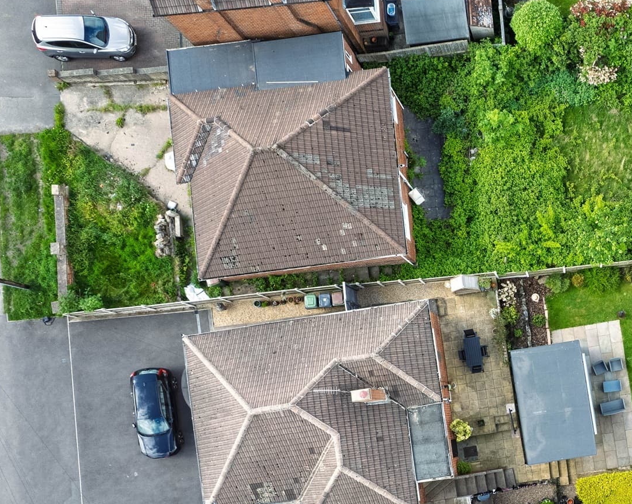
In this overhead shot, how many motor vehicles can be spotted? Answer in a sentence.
There are 2 motor vehicles in the image.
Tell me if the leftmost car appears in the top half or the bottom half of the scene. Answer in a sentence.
You can find the leftmost car in the top half.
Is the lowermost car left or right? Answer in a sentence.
The lowermost car sits on the left side.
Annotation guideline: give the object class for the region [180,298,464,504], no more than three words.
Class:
house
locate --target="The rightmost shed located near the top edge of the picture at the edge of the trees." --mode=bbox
[470,0,498,44]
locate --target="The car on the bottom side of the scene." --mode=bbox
[133,369,184,456]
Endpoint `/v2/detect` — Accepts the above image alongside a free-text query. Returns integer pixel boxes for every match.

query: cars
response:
[38,17,134,66]
[133,369,184,456]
